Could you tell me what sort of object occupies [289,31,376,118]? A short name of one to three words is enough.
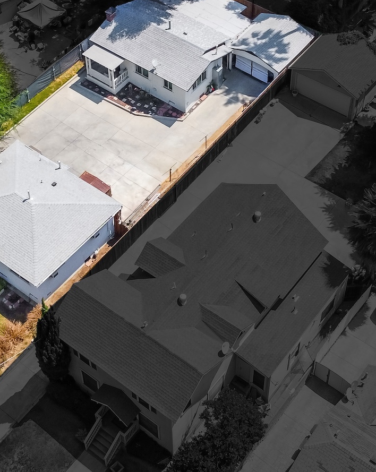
building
